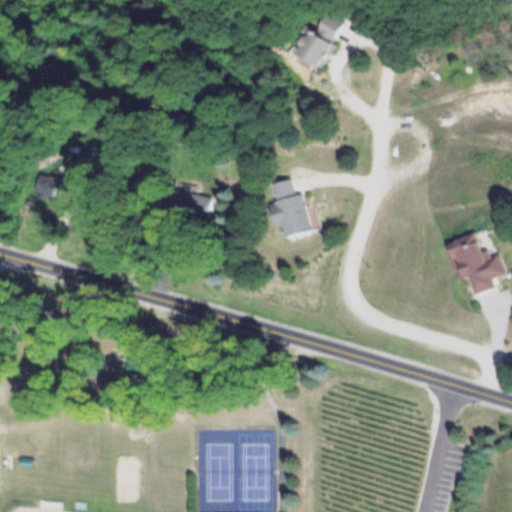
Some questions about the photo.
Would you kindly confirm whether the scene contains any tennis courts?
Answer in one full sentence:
Yes, this view includes a tennis court.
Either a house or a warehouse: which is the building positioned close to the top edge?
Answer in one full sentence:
I'd say the building positioned close to the top edge is a house.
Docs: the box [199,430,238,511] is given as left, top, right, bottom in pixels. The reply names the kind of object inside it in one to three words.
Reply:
tennis court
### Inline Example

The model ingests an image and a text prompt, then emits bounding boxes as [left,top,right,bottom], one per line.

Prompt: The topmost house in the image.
[294,14,346,72]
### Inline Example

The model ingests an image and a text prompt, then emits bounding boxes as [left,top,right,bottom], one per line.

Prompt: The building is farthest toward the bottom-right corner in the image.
[447,238,512,294]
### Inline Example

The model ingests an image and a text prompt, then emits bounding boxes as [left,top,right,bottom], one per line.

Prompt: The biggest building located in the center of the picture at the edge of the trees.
[271,182,318,244]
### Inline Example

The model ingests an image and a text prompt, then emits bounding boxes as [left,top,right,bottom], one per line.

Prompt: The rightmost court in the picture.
[238,430,276,511]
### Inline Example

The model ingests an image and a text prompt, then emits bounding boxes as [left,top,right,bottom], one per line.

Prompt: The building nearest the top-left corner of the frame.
[37,175,59,200]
